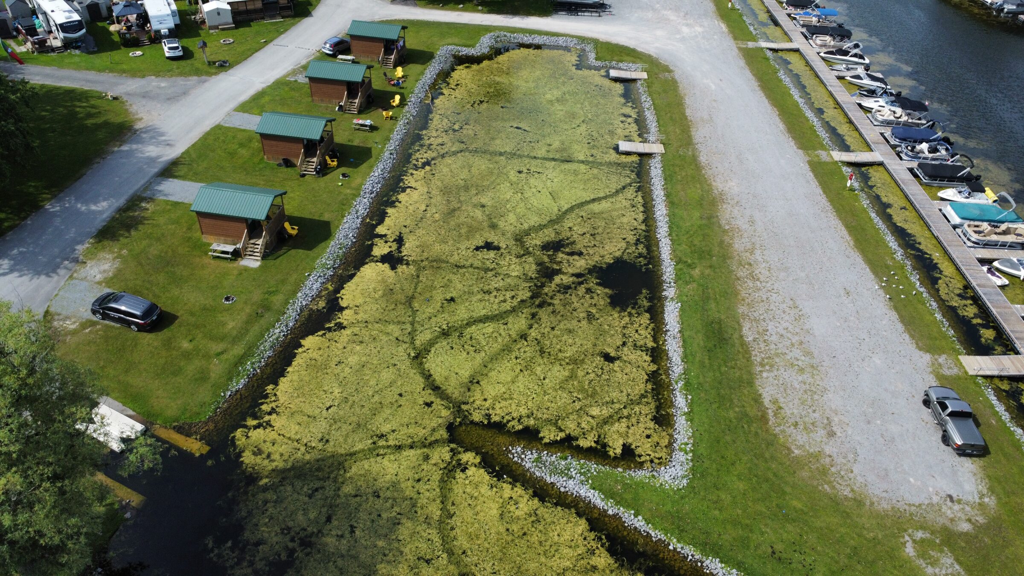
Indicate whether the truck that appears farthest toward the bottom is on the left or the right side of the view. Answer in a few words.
right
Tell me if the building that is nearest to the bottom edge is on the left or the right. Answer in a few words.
left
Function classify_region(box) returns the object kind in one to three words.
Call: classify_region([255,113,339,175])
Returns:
building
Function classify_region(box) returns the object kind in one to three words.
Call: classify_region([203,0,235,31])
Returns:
shed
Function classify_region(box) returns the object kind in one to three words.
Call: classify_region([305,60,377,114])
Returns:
building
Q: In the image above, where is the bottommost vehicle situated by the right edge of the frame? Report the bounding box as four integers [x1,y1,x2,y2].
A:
[926,385,993,456]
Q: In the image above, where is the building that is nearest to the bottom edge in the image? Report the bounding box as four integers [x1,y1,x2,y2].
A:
[189,184,290,260]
